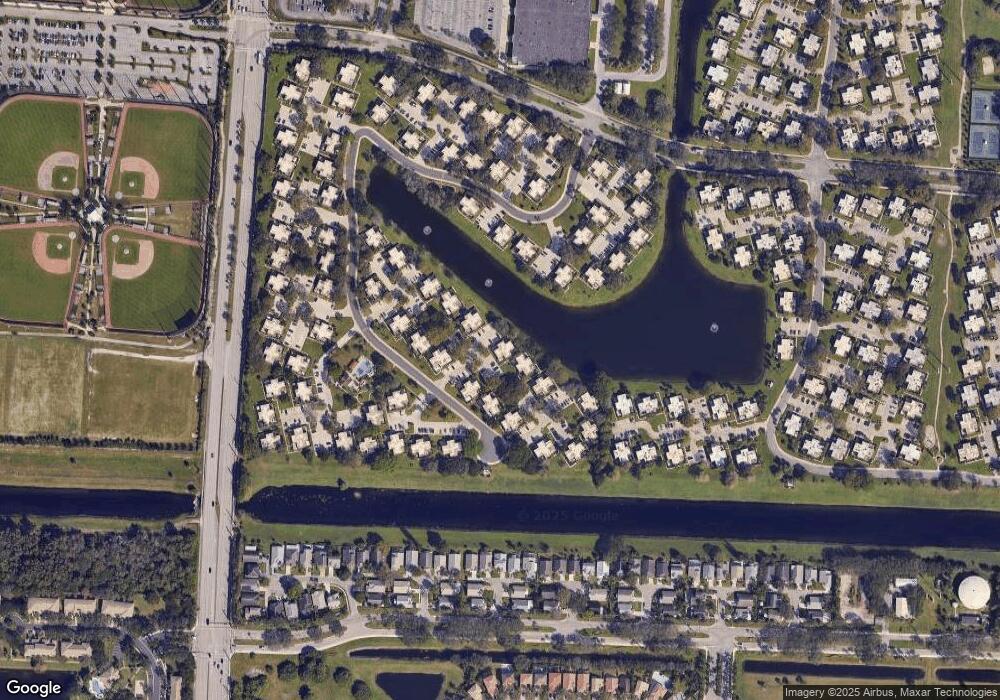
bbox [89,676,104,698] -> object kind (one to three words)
swimming pool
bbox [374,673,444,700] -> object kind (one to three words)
pond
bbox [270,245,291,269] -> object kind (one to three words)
house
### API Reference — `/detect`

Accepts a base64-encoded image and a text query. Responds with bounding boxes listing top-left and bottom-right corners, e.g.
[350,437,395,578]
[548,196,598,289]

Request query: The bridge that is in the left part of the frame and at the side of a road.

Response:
[195,488,236,516]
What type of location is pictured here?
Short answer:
residential area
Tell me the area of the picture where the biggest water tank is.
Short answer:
bottom right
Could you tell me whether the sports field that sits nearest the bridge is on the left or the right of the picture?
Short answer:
left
